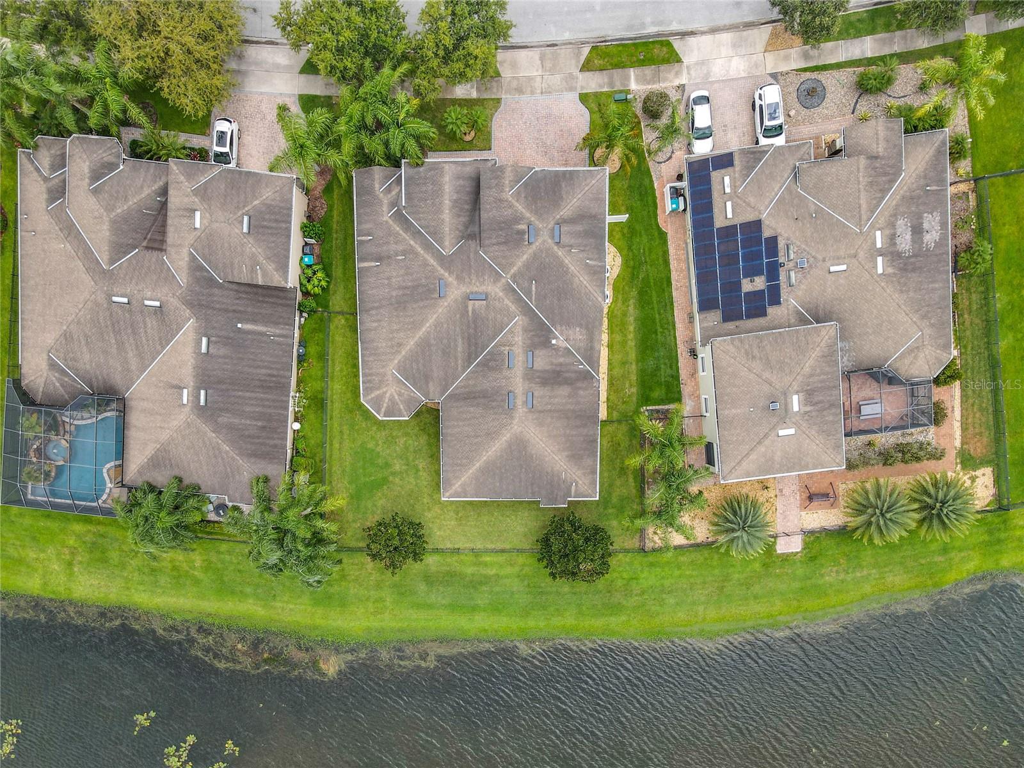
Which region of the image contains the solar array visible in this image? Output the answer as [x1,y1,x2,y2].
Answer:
[688,152,781,322]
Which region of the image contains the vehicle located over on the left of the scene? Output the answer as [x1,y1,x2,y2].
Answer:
[206,113,243,169]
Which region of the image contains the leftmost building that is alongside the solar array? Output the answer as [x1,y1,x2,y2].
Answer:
[352,157,608,507]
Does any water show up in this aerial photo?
Yes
